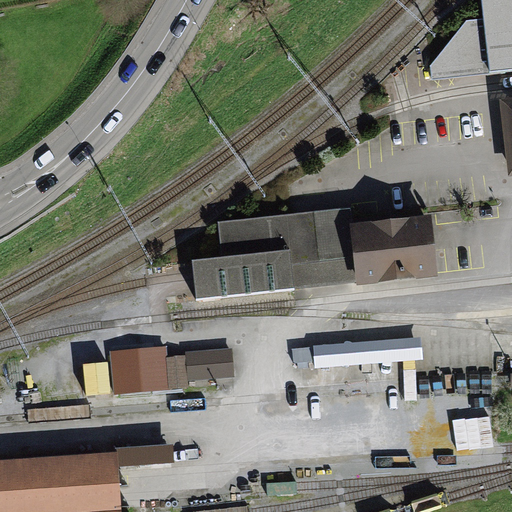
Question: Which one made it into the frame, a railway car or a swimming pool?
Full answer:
The one in the frame is a railway car.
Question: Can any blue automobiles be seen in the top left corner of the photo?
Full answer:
Yes, in the top left corner of the photo there is a blue automobile.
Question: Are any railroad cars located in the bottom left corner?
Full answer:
Yes, looking in the bottom left corner, one can make out a railroad car.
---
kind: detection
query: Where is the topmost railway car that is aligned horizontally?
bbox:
[24,405,93,424]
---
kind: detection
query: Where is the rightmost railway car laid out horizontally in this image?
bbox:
[402,492,453,512]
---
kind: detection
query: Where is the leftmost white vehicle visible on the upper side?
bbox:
[34,150,56,168]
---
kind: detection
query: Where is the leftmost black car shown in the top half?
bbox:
[38,174,58,192]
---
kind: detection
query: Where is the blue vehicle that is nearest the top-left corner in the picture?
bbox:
[120,60,138,82]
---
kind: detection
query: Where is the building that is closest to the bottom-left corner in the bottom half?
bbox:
[0,452,120,512]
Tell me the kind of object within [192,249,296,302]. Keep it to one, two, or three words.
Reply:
building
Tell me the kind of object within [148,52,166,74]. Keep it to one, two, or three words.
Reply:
car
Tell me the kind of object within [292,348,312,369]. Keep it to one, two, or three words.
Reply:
shed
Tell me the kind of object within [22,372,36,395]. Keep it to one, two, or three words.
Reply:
work vehicle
